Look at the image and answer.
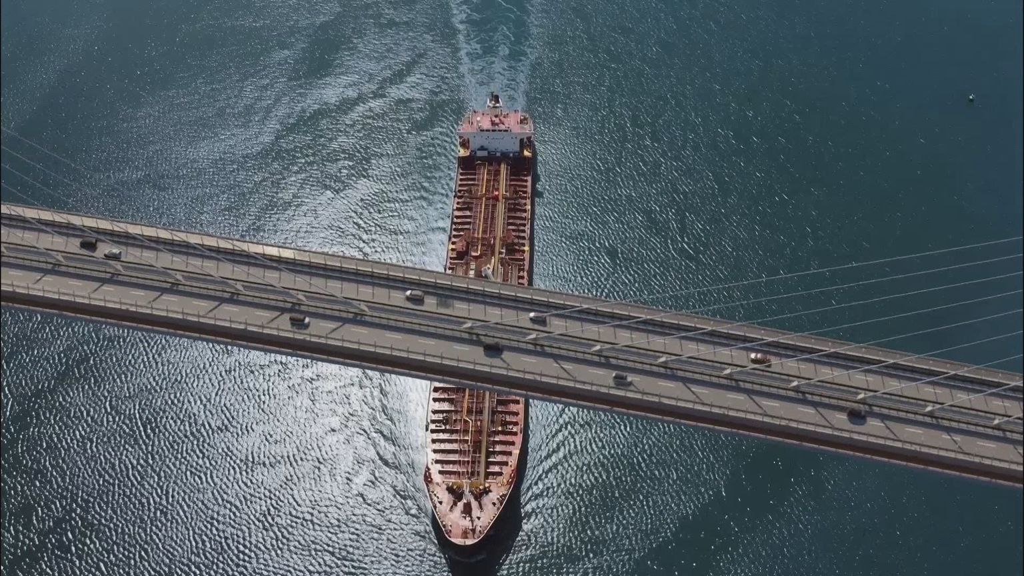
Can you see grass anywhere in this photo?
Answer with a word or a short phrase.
No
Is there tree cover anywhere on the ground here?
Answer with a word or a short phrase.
No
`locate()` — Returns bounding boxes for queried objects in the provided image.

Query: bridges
[0,127,1024,492]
